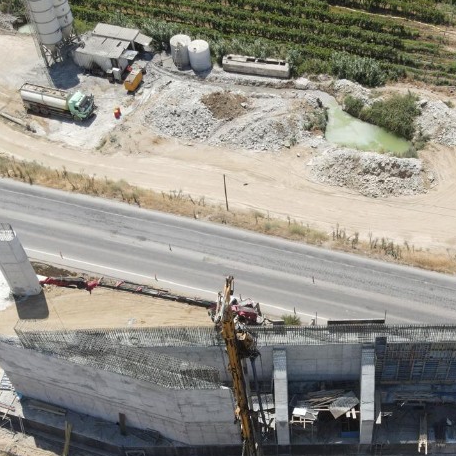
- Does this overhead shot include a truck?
Yes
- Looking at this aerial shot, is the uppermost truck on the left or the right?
left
